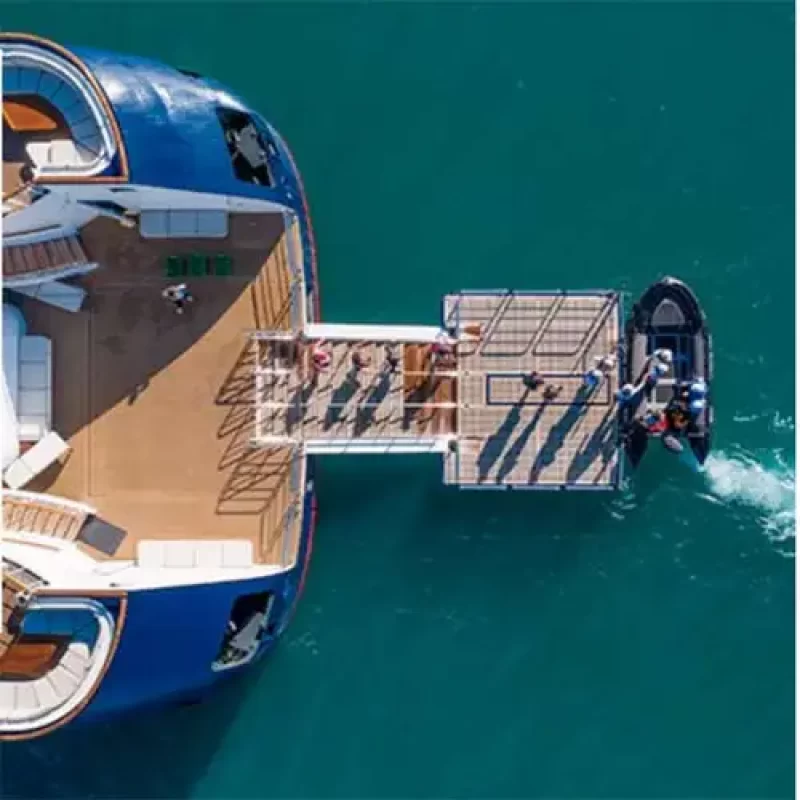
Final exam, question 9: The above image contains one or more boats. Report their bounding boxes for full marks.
[0,36,322,740]
[629,275,712,467]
